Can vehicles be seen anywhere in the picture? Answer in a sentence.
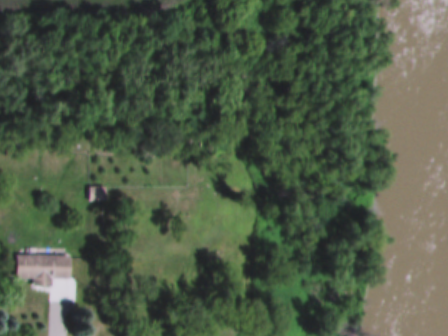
No, the scene contains no vehicle.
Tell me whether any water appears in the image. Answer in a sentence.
Yes, there's water in this view.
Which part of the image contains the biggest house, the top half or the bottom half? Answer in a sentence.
The biggest house is in the bottom half of the image.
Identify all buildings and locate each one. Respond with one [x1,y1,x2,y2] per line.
[16,248,72,286]
[88,186,106,202]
